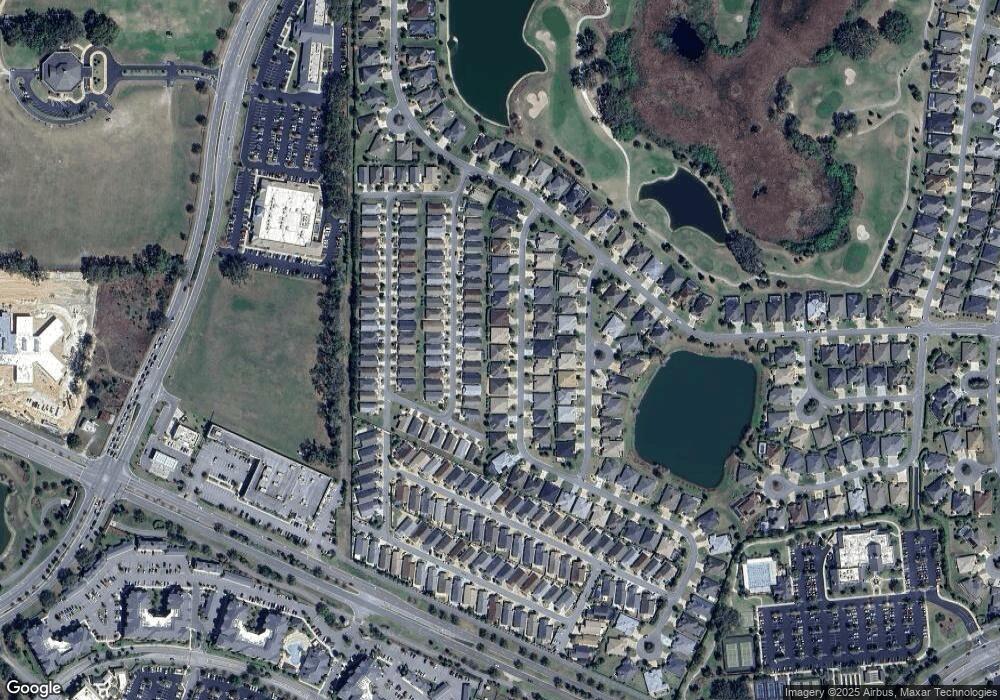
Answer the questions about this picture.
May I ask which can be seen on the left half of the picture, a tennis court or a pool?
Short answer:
pool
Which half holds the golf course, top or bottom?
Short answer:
top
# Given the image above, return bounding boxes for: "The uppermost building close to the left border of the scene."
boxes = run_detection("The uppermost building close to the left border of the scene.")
[42,52,93,91]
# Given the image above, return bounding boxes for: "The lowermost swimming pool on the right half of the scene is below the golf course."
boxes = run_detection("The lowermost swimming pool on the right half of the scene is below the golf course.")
[742,556,776,593]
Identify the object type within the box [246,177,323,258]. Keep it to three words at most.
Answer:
building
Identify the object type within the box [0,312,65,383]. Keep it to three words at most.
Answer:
building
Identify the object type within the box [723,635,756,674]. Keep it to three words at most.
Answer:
tennis court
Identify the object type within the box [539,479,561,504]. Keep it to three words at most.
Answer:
house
